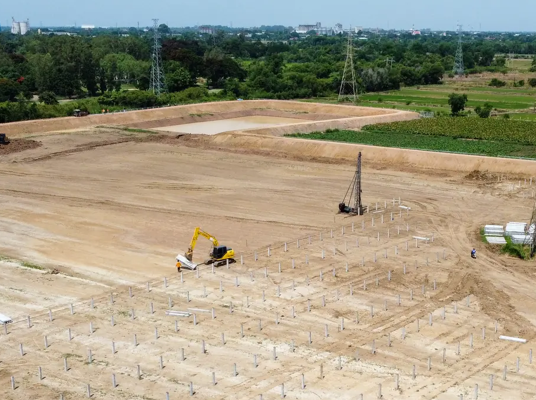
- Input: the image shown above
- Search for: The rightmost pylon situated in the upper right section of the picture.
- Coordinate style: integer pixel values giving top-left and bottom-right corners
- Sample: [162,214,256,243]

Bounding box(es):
[450,21,467,76]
